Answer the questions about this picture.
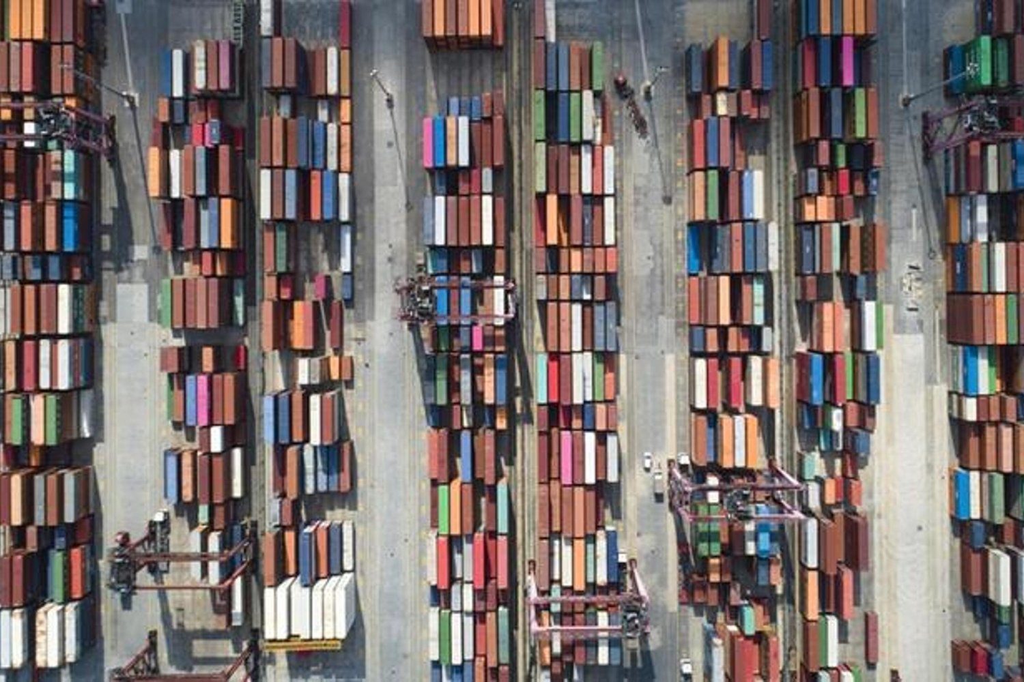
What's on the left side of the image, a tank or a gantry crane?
gantry crane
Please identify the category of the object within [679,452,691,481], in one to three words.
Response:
vehicle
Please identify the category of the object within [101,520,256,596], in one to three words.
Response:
container crane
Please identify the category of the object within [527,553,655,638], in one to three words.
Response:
container crane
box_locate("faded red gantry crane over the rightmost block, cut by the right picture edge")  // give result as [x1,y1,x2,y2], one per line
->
[923,96,1024,164]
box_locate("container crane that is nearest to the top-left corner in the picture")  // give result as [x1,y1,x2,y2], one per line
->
[0,99,115,166]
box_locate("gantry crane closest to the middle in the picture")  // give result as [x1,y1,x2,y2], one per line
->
[389,269,518,328]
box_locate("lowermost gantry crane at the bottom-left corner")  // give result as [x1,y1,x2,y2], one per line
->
[102,625,257,682]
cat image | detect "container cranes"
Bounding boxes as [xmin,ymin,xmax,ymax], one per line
[527,553,655,638]
[102,625,257,682]
[665,453,810,526]
[0,99,115,166]
[923,96,1024,164]
[389,269,518,328]
[101,520,256,596]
